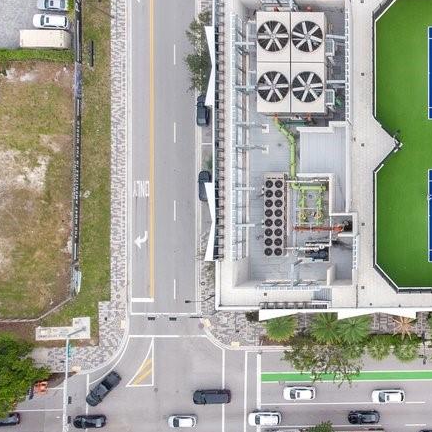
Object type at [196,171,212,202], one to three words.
car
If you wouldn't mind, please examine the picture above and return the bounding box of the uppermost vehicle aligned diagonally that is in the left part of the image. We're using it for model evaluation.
[87,371,124,405]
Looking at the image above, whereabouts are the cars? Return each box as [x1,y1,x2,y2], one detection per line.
[0,412,22,428]
[193,387,232,405]
[372,387,405,404]
[33,13,70,29]
[248,410,283,427]
[169,413,198,429]
[283,384,317,401]
[74,413,108,429]
[37,0,68,11]
[194,96,211,127]
[347,408,380,425]
[87,371,124,405]
[196,171,212,202]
